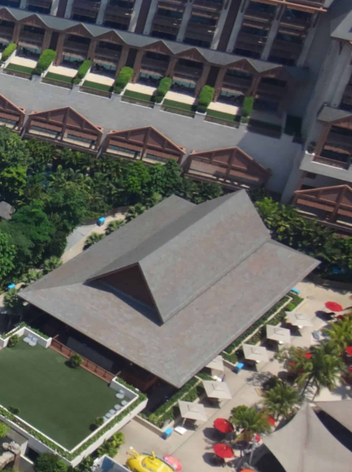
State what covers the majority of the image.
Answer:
buildings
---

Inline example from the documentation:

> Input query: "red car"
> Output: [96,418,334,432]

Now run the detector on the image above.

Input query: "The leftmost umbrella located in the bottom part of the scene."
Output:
[175,399,210,430]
